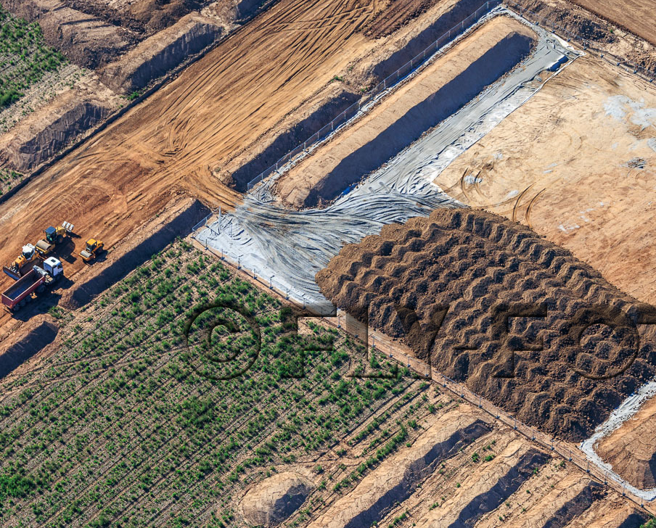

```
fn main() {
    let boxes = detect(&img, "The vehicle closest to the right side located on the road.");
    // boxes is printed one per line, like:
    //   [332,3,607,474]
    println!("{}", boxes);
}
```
[76,238,102,261]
